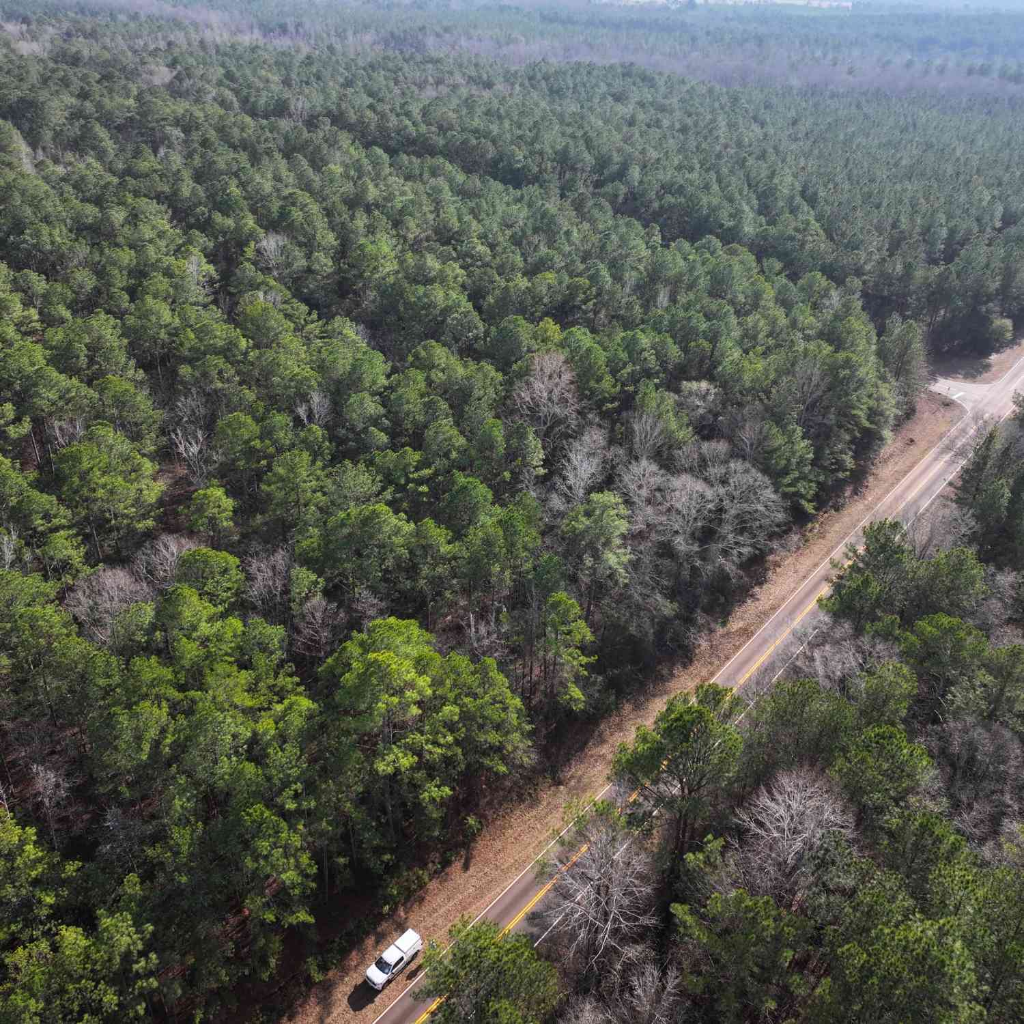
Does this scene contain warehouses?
No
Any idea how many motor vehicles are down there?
one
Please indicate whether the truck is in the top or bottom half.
bottom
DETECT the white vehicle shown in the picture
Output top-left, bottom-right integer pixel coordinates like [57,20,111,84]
[368,931,422,990]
